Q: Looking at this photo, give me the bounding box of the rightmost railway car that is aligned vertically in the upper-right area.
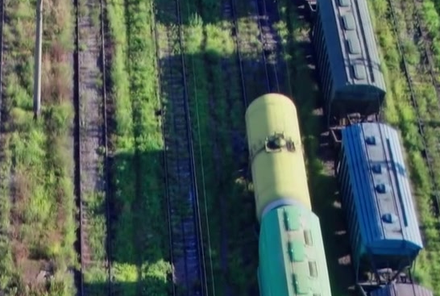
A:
[312,0,389,158]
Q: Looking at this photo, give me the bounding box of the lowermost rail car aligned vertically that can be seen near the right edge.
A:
[335,122,422,296]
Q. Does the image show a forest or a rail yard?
rail yard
